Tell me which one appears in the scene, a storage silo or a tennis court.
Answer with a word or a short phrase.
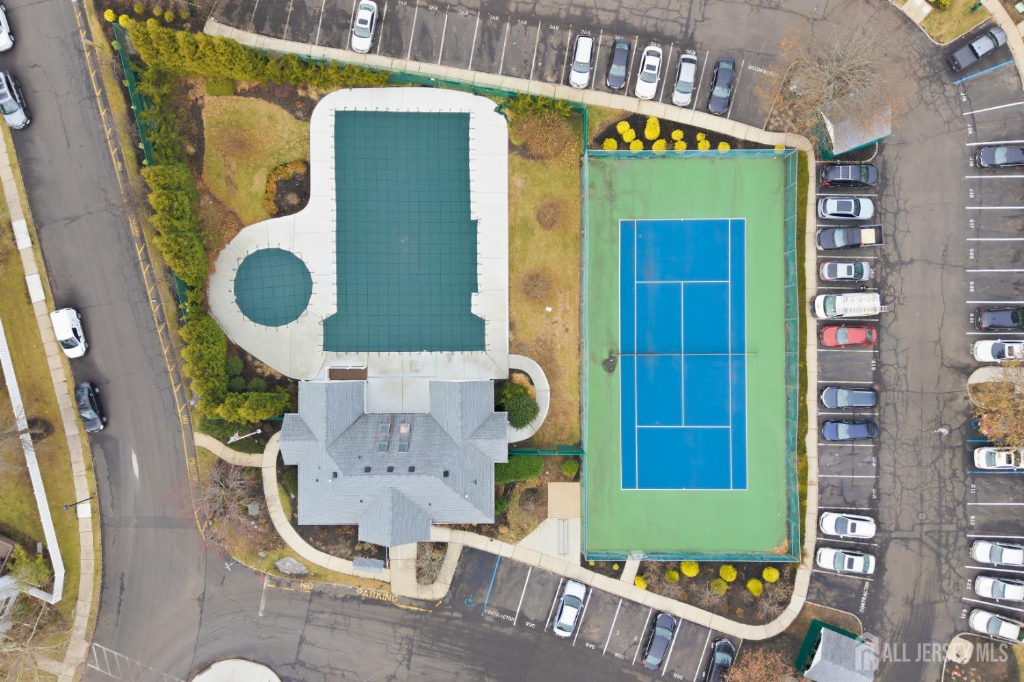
tennis court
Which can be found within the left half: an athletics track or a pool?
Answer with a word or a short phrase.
pool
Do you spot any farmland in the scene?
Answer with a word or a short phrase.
No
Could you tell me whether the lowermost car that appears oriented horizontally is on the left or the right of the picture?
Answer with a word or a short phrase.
right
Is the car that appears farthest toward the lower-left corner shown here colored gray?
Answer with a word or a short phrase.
Yes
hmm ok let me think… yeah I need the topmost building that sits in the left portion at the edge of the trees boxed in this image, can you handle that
[279,381,508,547]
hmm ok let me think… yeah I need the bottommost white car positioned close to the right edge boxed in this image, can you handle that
[966,608,1024,641]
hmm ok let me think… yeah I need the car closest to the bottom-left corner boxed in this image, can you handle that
[76,382,109,432]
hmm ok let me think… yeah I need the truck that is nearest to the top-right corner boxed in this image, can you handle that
[941,25,1009,77]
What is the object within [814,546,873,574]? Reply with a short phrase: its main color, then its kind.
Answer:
white car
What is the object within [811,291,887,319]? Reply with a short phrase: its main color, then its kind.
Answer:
white van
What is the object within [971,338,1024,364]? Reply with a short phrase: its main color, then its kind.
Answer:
white car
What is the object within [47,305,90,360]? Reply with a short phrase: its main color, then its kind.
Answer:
white van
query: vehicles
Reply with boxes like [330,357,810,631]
[703,637,736,682]
[972,305,1024,332]
[76,382,109,432]
[604,37,631,92]
[819,259,869,284]
[817,511,875,538]
[814,546,873,574]
[811,291,887,319]
[634,45,662,102]
[971,143,1024,169]
[817,194,873,221]
[350,0,378,56]
[670,53,698,109]
[941,25,1009,77]
[819,322,876,348]
[966,608,1024,641]
[47,305,90,360]
[706,56,735,116]
[969,574,1024,602]
[819,160,877,188]
[0,74,33,130]
[819,418,876,443]
[566,34,595,91]
[820,384,877,411]
[967,539,1024,566]
[553,579,585,637]
[816,223,884,250]
[971,338,1024,364]
[642,611,674,669]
